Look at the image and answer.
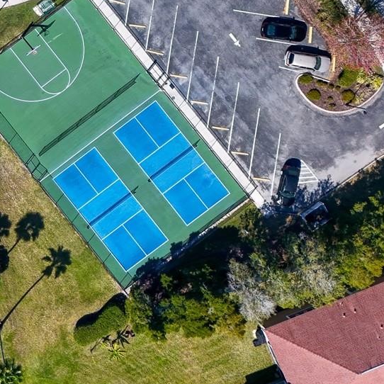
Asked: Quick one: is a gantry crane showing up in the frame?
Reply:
No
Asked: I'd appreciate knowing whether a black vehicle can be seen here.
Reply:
Yes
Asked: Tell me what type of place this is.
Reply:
sports ground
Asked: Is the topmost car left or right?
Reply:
right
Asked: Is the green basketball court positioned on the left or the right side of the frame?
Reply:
left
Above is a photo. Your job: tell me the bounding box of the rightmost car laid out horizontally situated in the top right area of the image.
[283,51,332,73]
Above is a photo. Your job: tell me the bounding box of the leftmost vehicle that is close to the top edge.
[258,19,307,41]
